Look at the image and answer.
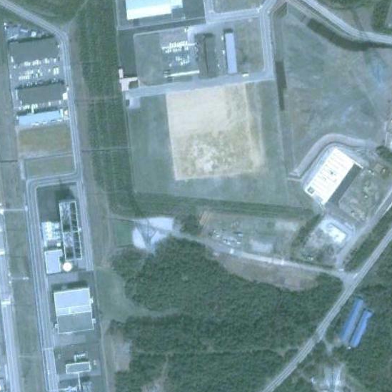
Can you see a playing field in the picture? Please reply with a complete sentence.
Yes, the photo shows a playing field.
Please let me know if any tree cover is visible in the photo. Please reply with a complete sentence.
Yes, the picture does contain tree cover.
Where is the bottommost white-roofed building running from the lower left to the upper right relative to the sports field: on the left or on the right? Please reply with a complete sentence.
Looking at the photo, the bottommost white-roofed building running from the lower left to the upper right lies to the right of the sports field.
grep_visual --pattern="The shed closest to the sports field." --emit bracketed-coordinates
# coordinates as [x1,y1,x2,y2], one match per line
[226,34,238,74]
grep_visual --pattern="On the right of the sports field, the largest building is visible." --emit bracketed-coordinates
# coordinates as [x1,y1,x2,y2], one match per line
[305,147,355,204]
